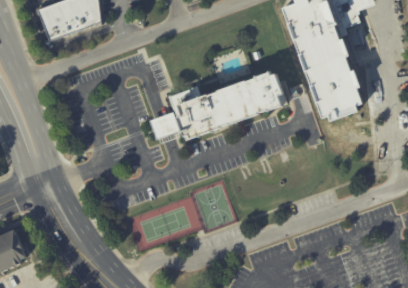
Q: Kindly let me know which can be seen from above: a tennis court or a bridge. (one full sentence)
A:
There is a tennis court in the scene.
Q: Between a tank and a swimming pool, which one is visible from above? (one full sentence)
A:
The one in the frame is a swimming pool.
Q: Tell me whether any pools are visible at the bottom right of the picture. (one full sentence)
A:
No, there's no pool to be seen at the bottom right of the picture.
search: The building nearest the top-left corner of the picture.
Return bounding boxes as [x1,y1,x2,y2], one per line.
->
[39,0,101,40]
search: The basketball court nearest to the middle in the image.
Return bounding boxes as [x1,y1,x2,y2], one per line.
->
[193,182,238,232]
